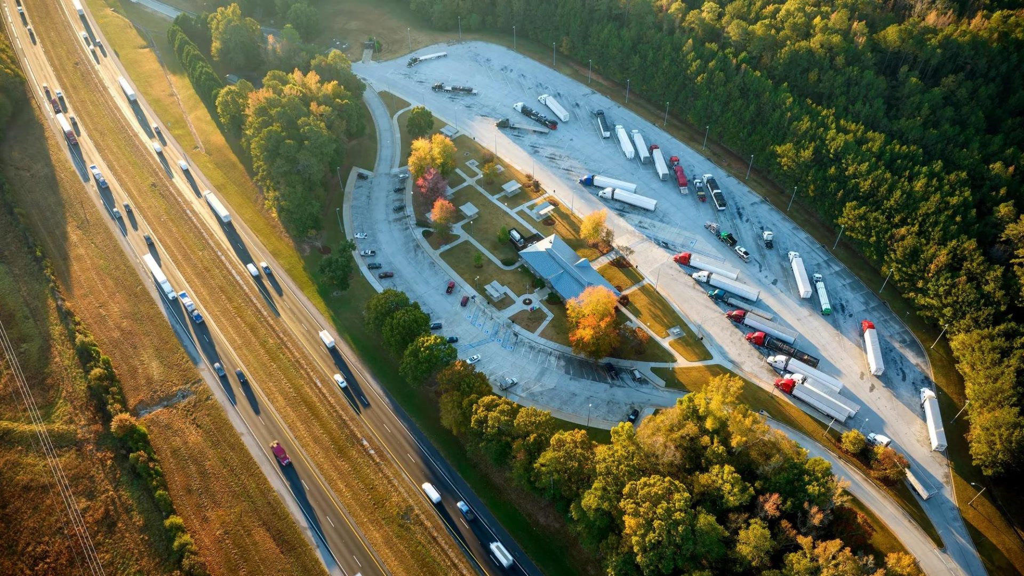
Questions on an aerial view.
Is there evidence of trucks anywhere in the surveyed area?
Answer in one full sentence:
Yes, there's a truck here.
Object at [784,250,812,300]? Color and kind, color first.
white truck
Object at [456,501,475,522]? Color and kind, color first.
blue vehicle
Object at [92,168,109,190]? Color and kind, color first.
white vehicle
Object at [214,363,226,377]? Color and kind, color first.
blue vehicle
